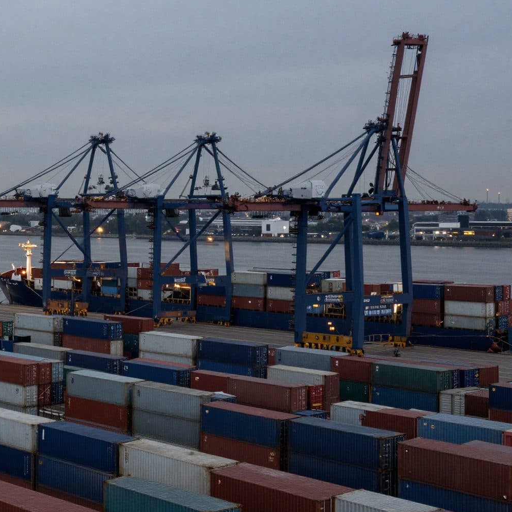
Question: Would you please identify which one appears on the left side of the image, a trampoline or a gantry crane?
gantry crane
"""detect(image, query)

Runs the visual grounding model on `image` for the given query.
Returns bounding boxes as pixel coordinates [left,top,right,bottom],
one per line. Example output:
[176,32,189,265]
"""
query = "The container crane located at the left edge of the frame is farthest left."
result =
[0,133,151,319]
